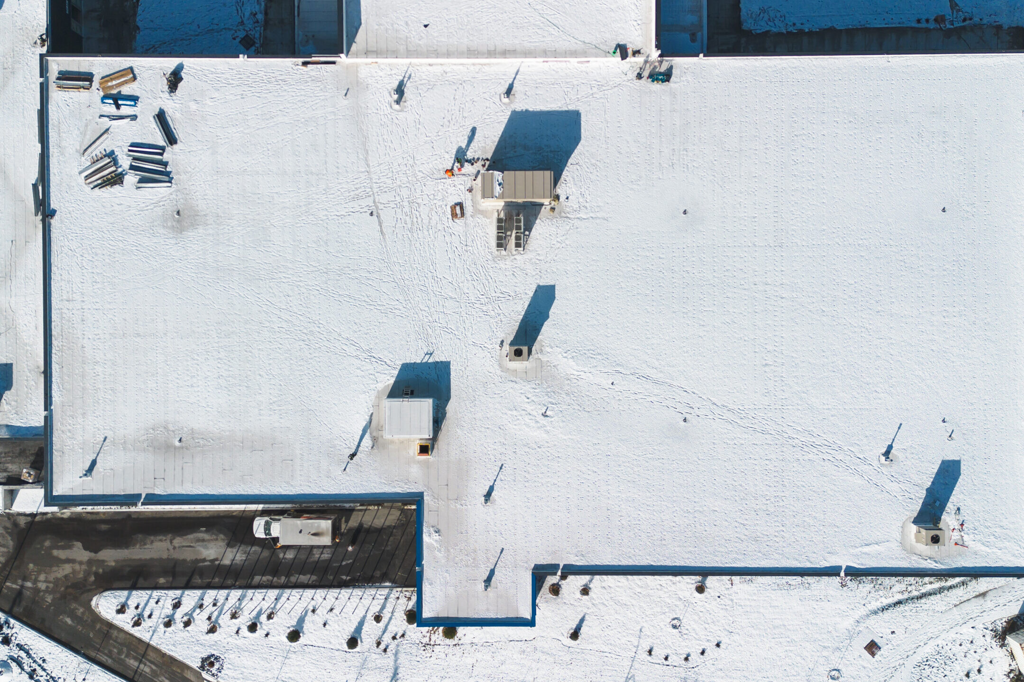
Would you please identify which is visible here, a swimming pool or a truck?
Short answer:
truck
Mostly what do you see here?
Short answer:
buildings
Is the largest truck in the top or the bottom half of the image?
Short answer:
bottom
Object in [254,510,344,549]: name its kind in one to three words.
truck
